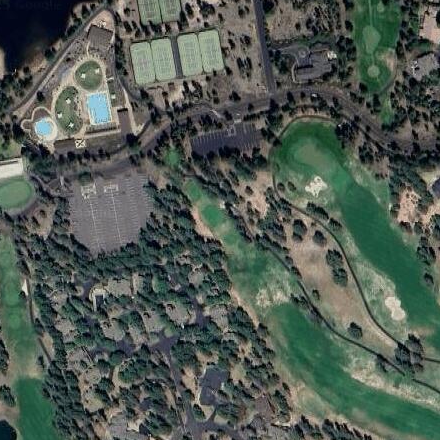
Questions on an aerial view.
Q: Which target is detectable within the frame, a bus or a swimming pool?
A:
swimming pool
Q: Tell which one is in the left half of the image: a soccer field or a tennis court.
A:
tennis court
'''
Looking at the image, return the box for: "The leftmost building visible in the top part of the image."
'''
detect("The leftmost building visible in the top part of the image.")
[0,158,26,182]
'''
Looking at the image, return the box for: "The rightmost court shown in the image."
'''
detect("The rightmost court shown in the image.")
[199,30,223,72]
